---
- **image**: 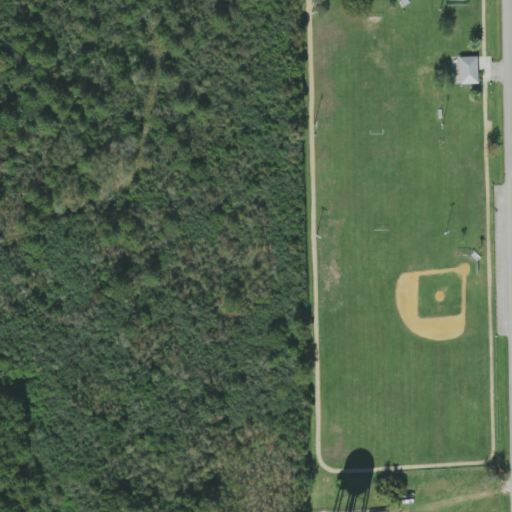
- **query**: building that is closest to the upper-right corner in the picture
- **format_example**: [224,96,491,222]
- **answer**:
[452,56,479,84]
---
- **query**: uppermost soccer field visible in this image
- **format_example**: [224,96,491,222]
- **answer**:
[345,128,434,233]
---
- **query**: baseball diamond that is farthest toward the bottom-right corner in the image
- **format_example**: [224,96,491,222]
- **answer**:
[396,262,470,340]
